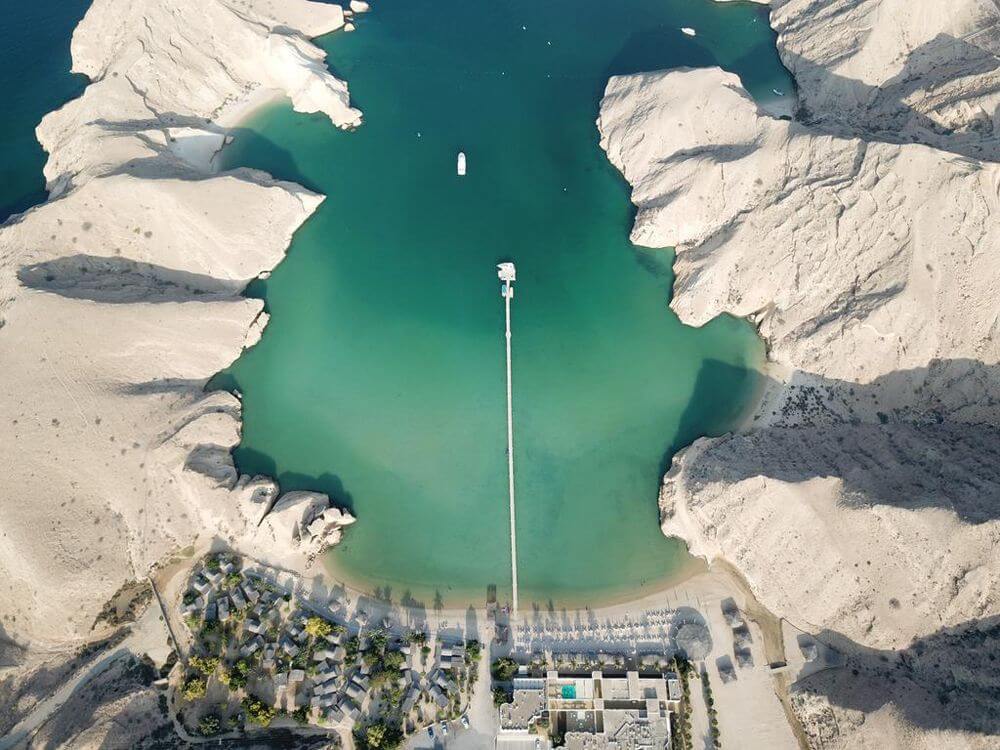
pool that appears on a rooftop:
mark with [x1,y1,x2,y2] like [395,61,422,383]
[562,685,576,698]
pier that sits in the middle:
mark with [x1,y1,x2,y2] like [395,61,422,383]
[497,263,517,613]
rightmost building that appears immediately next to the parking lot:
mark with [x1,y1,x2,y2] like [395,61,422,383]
[497,655,686,750]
